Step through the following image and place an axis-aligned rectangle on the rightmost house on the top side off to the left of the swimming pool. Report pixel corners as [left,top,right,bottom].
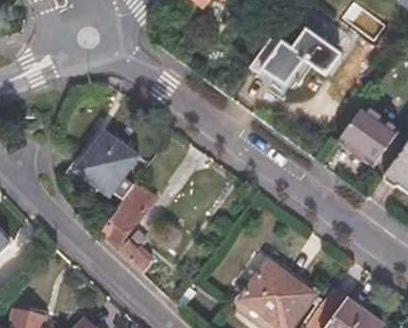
[248,28,342,102]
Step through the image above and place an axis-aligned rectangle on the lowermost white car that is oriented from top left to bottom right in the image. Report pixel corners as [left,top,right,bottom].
[267,148,290,168]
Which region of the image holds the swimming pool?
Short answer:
top right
